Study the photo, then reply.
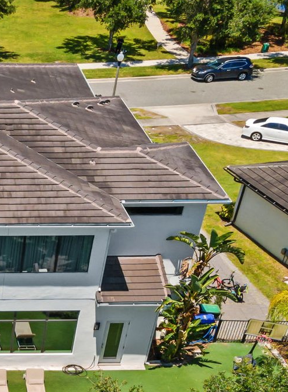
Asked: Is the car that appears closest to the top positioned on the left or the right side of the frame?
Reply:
right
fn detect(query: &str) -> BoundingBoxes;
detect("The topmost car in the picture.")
[186,48,256,80]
